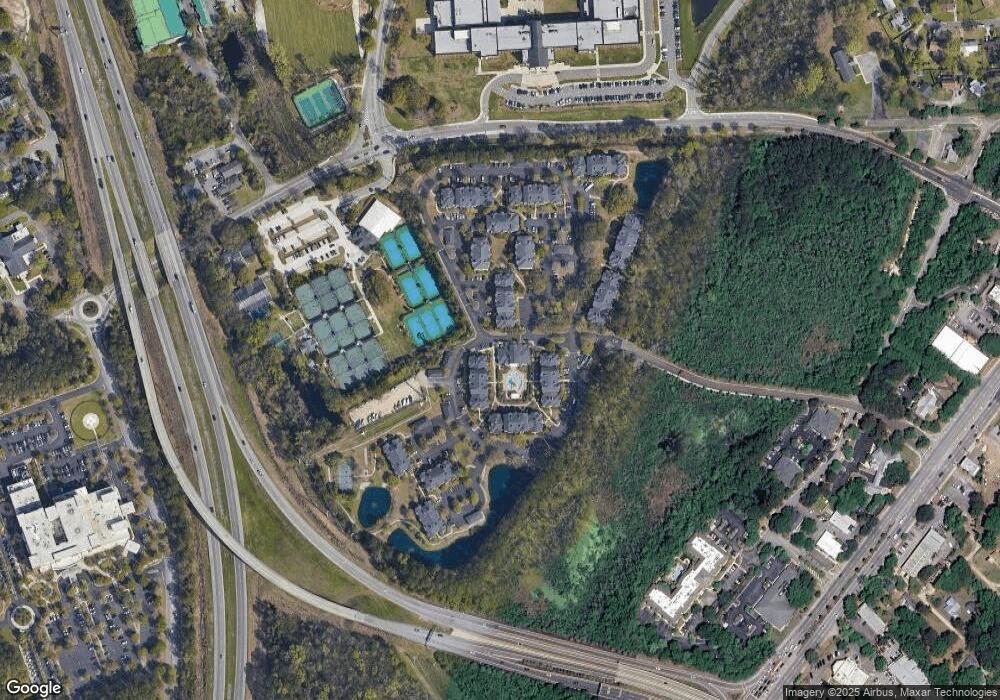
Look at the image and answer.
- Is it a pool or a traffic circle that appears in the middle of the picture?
pool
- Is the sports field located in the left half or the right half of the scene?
left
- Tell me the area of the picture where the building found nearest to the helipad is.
bottom left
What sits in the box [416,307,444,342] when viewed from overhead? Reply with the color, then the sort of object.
blue tennis court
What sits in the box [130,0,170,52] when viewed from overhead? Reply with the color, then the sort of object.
green sports court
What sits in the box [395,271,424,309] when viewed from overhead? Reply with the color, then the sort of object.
blue tennis court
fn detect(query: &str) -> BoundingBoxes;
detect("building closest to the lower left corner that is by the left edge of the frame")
[5,478,140,580]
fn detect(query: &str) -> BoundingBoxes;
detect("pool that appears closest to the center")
[504,368,527,397]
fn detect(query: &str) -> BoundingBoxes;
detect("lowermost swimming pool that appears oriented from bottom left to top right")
[670,559,689,582]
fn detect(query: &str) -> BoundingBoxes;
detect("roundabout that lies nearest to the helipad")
[73,292,107,325]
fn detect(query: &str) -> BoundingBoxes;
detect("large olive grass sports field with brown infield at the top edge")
[256,0,363,69]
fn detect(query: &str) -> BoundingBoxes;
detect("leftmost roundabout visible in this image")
[5,599,40,636]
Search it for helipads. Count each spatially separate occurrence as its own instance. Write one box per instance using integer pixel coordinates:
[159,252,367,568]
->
[71,401,110,440]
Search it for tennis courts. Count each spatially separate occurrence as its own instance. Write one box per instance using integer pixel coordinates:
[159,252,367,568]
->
[416,307,444,342]
[395,226,423,263]
[395,271,424,309]
[402,313,431,349]
[327,352,357,391]
[294,92,322,129]
[379,234,409,271]
[343,303,374,341]
[431,299,458,335]
[338,464,353,490]
[317,83,347,117]
[306,86,335,123]
[311,319,341,357]
[325,267,356,306]
[359,337,390,375]
[343,345,373,383]
[411,264,441,300]
[326,311,357,349]
[294,282,324,320]
[310,274,341,313]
